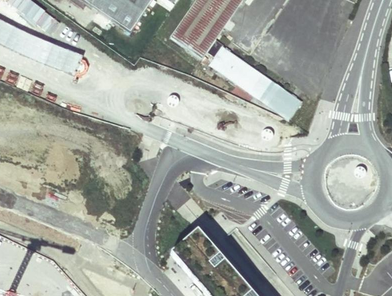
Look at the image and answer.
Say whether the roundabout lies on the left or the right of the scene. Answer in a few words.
right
